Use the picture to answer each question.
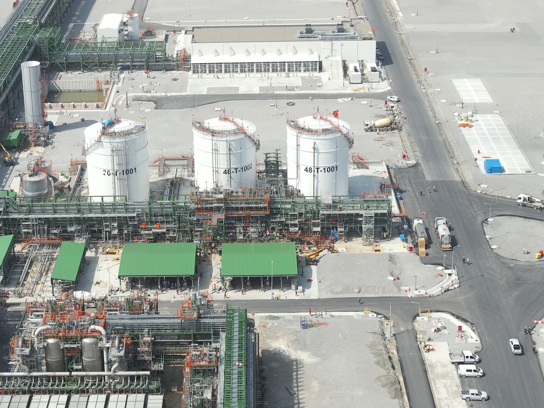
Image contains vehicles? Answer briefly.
Yes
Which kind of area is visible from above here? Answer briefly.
industrial area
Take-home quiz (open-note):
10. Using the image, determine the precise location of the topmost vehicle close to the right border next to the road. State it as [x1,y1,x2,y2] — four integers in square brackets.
[513,190,544,207]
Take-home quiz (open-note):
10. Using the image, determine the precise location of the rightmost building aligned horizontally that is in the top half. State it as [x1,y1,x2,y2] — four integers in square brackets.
[189,15,376,80]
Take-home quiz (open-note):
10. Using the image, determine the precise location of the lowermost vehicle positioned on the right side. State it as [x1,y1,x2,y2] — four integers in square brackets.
[459,386,490,400]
